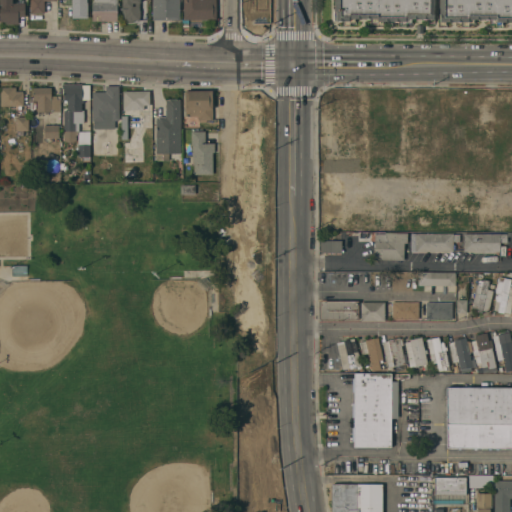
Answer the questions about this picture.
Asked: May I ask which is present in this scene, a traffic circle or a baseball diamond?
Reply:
baseball diamond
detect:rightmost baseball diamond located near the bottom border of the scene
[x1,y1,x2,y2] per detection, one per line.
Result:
[131,463,213,512]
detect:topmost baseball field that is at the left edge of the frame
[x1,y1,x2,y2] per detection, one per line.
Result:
[0,266,86,372]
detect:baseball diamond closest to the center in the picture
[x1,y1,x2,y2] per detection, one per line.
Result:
[152,271,218,334]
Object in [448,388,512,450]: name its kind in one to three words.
building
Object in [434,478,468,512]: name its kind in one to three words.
building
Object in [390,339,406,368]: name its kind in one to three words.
house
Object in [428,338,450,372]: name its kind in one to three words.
house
